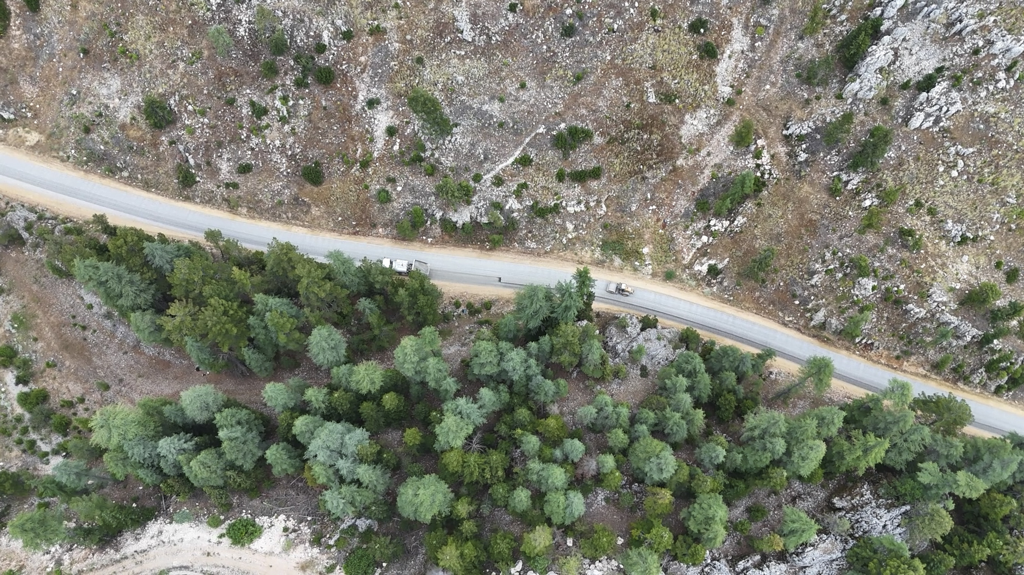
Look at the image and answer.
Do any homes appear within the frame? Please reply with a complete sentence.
No, the picture doesn't show any home.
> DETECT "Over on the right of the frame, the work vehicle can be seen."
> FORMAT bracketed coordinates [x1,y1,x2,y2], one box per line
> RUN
[605,280,636,299]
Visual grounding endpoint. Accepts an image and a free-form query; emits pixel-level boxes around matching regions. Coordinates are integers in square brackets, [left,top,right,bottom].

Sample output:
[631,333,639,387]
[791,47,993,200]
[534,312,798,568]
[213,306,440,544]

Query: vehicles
[605,280,636,299]
[380,257,431,280]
